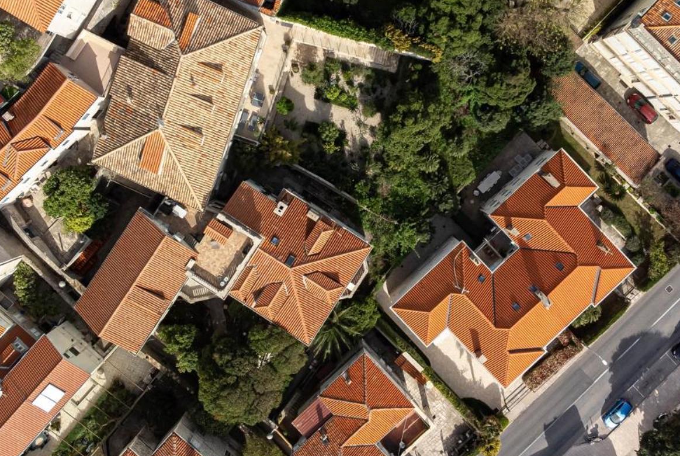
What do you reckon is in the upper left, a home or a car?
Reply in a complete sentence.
The feature located in the upper left is a home.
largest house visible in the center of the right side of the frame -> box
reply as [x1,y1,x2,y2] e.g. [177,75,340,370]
[389,147,637,388]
